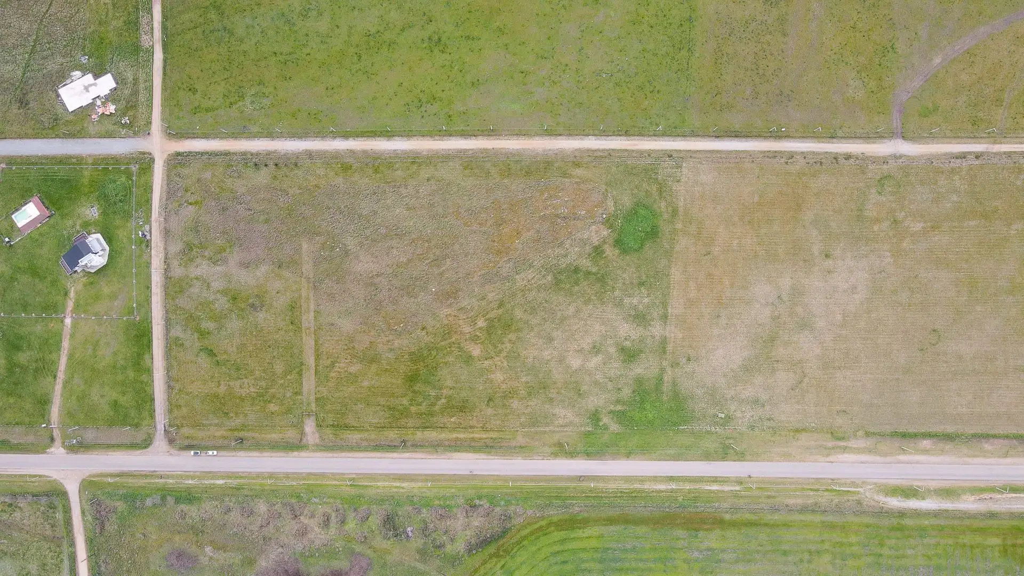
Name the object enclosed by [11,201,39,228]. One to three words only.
swimming pool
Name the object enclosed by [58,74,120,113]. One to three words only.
house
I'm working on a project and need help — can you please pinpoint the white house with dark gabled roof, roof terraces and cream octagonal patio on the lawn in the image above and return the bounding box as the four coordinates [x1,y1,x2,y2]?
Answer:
[60,232,109,275]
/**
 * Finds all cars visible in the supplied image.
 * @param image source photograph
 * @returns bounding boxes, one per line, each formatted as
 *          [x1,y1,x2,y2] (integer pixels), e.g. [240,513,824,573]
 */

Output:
[207,451,216,456]
[190,451,200,456]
